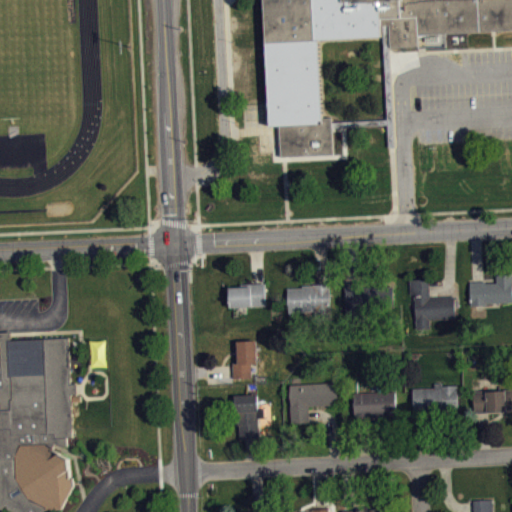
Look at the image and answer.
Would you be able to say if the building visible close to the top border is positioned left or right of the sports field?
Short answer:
on its right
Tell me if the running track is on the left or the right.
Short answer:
left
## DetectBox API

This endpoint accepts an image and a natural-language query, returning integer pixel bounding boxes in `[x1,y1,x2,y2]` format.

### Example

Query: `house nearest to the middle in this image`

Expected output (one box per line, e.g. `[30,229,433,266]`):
[228,283,267,310]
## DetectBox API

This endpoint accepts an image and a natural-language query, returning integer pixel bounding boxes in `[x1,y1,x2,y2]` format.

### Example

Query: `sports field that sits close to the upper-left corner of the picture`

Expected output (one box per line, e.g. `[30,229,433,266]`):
[0,0,82,172]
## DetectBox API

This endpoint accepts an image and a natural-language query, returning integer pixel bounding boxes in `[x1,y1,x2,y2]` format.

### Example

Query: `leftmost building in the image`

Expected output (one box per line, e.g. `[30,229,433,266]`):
[0,333,78,512]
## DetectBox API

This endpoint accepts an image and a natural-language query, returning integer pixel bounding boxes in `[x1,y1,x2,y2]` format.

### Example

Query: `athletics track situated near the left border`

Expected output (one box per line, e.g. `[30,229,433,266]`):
[0,0,102,212]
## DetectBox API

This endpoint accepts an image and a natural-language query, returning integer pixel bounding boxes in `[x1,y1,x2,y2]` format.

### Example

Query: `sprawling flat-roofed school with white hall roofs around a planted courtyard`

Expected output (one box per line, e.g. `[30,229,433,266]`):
[263,0,512,156]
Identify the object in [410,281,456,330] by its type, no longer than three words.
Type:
house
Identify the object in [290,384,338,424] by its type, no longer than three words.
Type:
house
